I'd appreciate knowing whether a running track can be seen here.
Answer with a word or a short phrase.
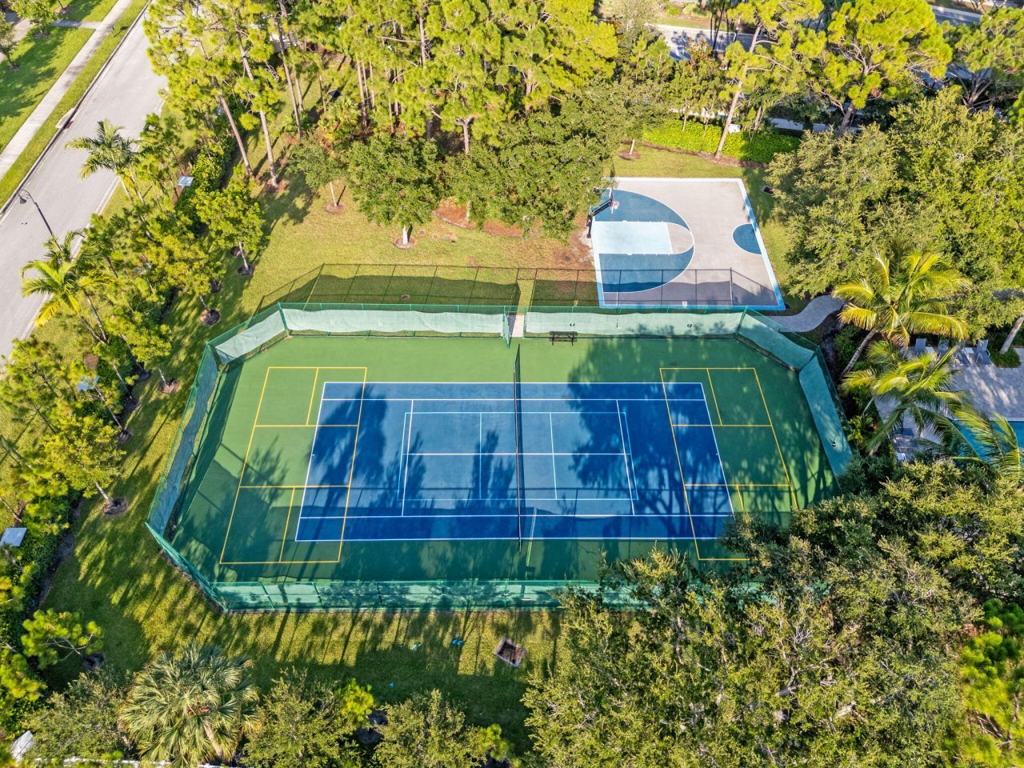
No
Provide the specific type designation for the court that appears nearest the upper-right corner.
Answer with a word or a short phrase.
basketball court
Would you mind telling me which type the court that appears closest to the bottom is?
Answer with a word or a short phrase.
tennis court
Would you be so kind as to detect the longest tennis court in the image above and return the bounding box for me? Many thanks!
[171,339,852,611]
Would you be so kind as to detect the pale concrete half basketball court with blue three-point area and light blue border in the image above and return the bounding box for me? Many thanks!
[587,176,784,309]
